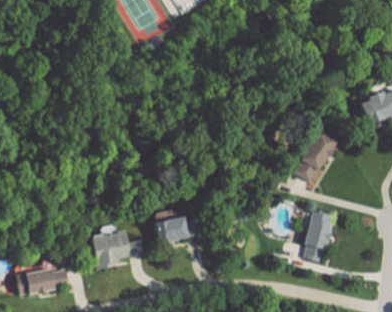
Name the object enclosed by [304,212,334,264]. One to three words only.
house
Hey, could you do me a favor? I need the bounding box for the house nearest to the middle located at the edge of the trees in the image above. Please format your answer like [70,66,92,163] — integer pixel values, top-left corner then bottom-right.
[166,218,194,242]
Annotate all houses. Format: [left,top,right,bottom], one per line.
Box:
[17,270,69,298]
[364,92,392,123]
[166,218,194,242]
[296,134,338,183]
[304,212,334,264]
[93,230,142,270]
